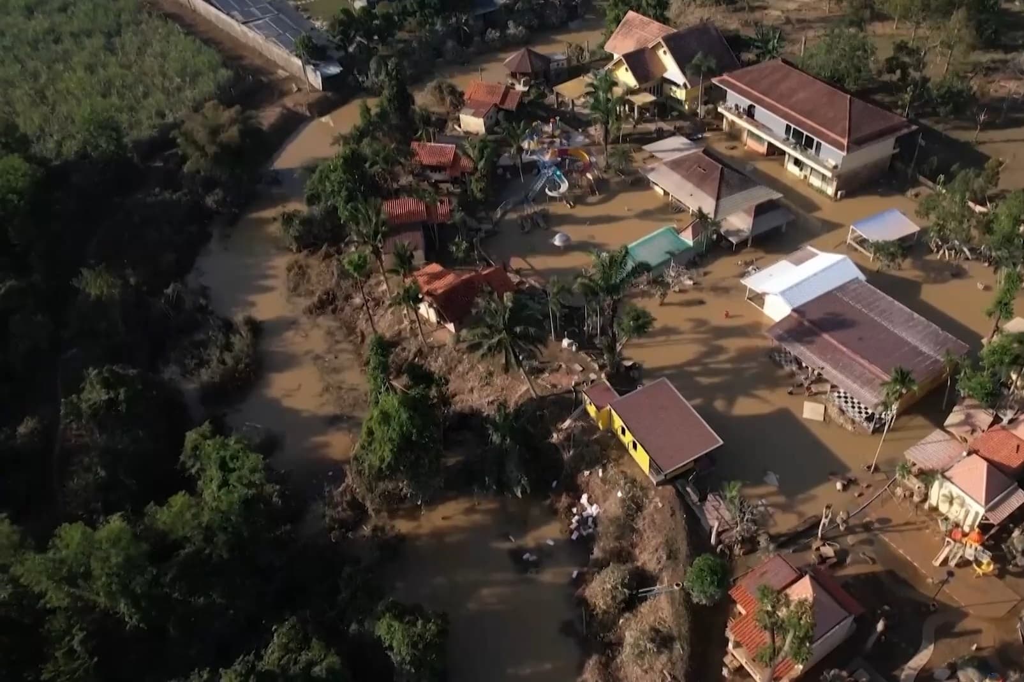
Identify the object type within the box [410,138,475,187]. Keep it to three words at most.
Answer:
house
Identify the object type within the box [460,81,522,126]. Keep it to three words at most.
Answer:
house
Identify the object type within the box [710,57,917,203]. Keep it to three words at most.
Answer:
building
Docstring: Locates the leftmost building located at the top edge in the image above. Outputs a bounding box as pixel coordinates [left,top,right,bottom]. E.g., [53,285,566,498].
[221,0,317,82]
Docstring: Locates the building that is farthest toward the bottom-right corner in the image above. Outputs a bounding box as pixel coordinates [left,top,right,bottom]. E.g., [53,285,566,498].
[927,451,1024,548]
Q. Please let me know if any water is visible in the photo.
Yes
